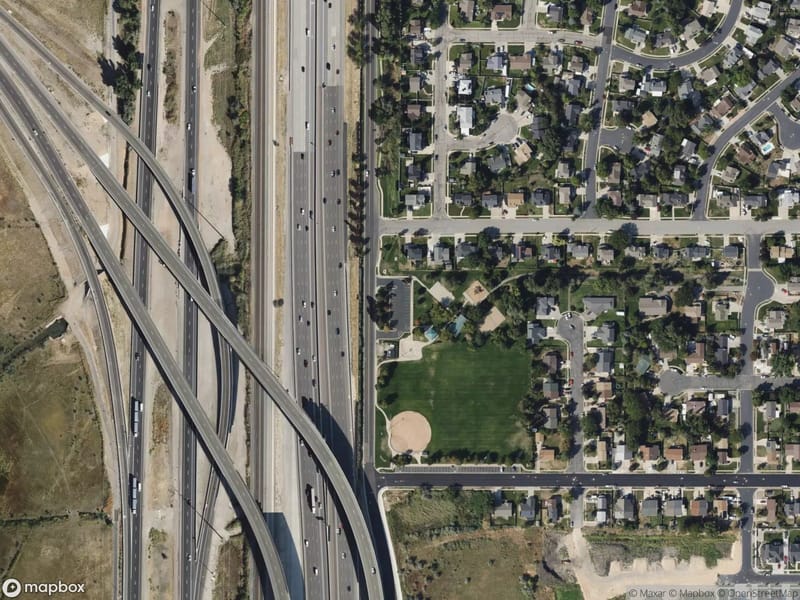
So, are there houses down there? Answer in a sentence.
Yes, I can see a house in this picture.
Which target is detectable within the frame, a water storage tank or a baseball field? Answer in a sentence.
Looking from above, you can make out a baseball field.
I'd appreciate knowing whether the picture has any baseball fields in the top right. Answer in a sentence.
No, the scene shows no baseball field in the top right.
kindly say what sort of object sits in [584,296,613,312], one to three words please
house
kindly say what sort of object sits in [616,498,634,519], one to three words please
house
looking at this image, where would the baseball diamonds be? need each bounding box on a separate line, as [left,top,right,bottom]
[378,345,530,455]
